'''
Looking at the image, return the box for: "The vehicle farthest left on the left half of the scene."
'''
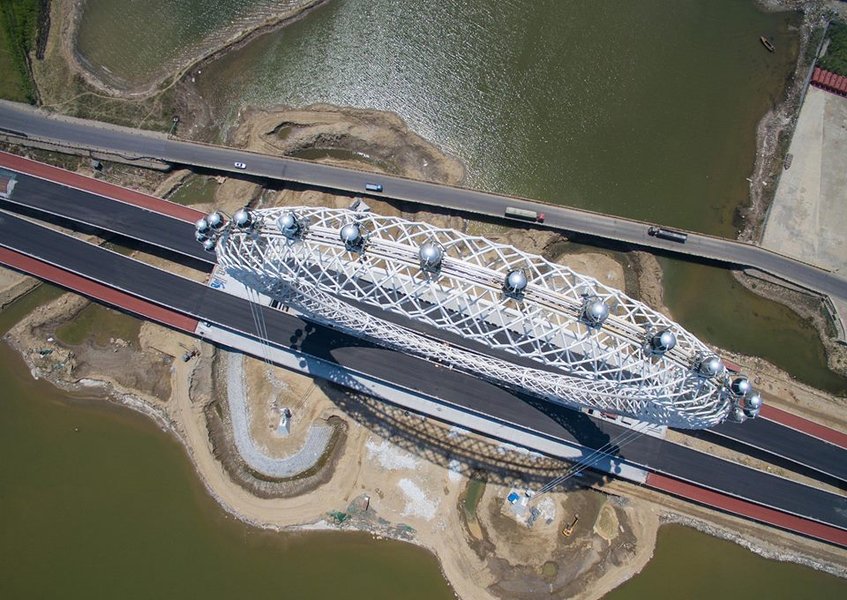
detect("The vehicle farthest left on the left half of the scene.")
[179,343,200,361]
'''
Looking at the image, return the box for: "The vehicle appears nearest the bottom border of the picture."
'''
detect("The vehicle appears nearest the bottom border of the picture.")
[562,515,578,538]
